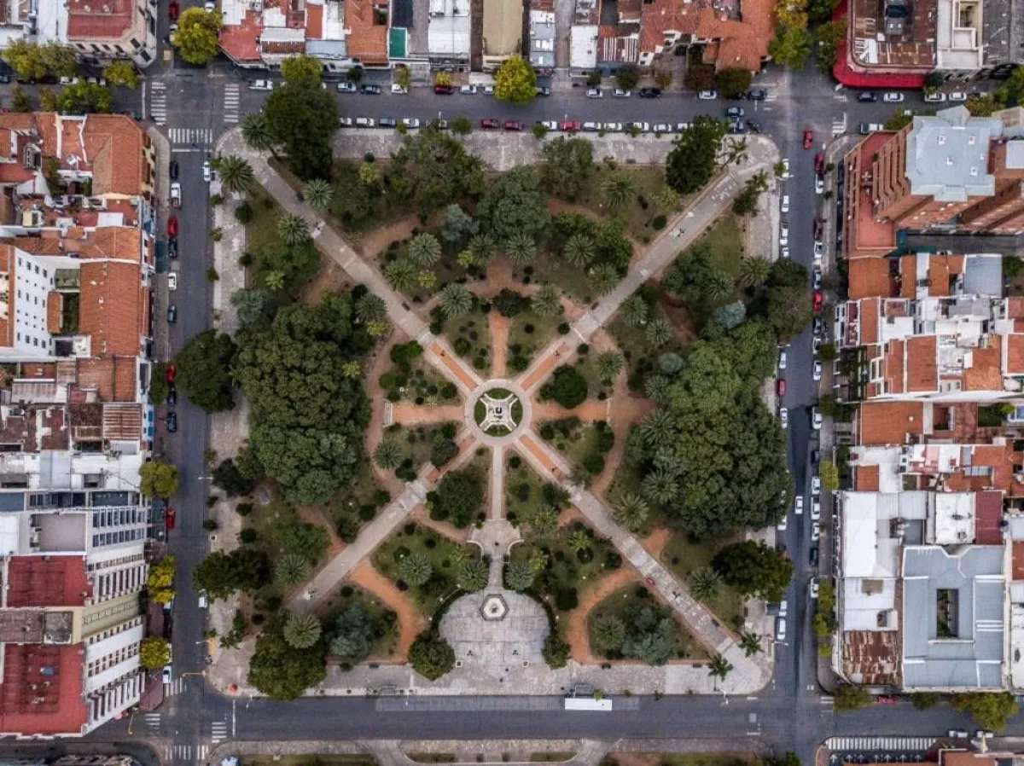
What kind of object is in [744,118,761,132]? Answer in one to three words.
car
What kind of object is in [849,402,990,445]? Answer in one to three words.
house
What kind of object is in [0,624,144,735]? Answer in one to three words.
building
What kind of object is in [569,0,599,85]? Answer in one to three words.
house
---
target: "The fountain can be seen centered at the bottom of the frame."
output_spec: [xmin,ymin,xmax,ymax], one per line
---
[480,596,507,619]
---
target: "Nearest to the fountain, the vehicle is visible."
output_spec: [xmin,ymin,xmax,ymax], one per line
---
[564,694,613,708]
